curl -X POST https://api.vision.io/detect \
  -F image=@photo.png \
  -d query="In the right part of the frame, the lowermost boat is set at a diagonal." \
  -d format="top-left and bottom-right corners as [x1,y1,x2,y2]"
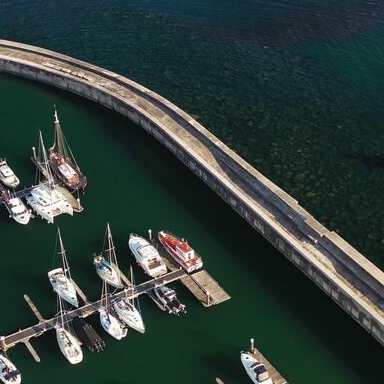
[240,352,273,384]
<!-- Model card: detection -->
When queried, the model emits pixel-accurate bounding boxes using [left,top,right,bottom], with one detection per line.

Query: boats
[91,221,126,296]
[45,227,85,315]
[95,274,130,343]
[240,352,273,384]
[153,284,184,318]
[5,197,31,227]
[52,284,84,369]
[77,319,108,357]
[0,341,22,384]
[0,150,22,191]
[111,264,147,335]
[46,107,96,193]
[130,234,170,279]
[27,133,80,230]
[159,228,208,279]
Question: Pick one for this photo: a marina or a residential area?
marina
